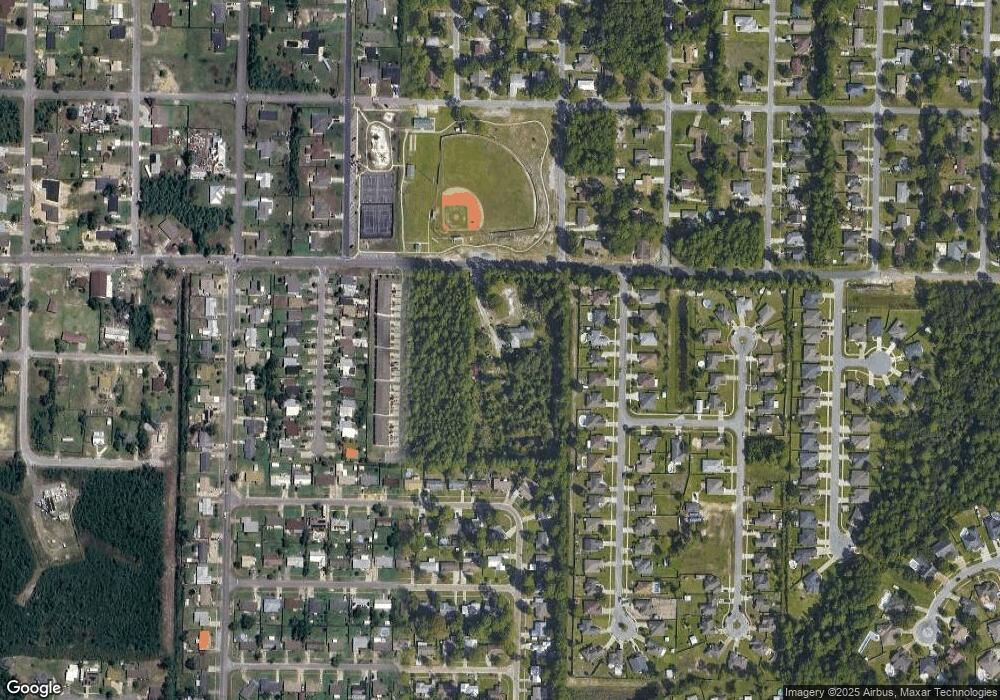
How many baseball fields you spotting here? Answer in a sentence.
The picture shows 1 baseball field.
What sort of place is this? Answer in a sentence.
What you see here is a residential area.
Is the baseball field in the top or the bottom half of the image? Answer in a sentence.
It is in the top half that the baseball field appears.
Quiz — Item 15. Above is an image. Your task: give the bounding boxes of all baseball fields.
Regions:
[438,133,534,234]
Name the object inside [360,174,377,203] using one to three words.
basketball court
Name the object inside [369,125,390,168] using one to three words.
playground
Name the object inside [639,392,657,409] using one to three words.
house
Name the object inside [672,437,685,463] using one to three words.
house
